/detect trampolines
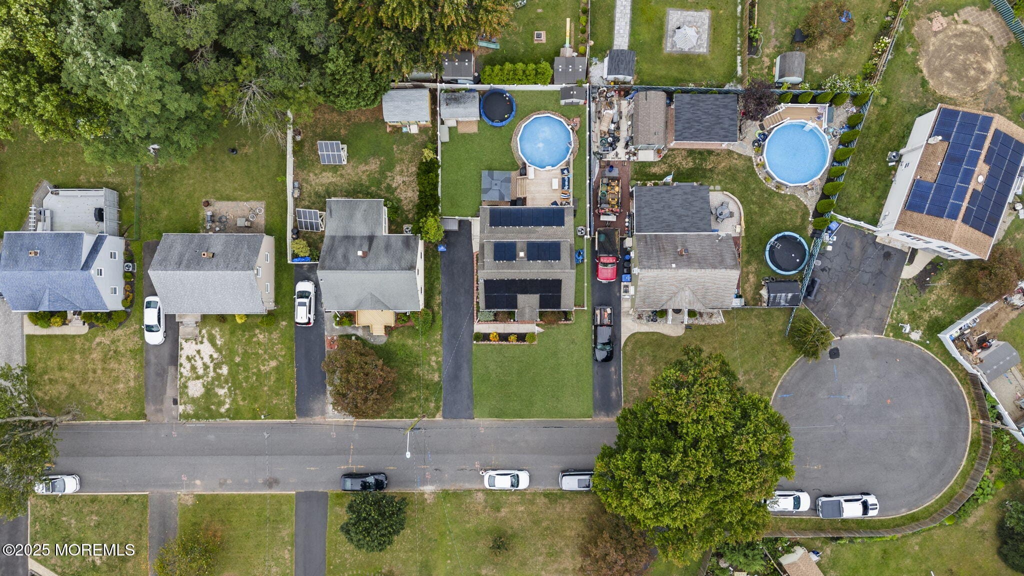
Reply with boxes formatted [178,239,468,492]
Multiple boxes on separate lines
[763,229,814,275]
[480,89,516,128]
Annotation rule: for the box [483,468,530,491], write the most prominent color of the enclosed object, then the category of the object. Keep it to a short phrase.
white car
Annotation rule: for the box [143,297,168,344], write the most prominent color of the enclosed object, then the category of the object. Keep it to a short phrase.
white car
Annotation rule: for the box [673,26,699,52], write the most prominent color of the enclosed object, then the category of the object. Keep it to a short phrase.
white umbrella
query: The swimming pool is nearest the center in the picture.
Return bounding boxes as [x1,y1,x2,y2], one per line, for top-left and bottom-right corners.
[518,114,572,170]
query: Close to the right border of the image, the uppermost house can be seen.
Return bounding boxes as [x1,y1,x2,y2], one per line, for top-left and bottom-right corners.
[865,103,1024,271]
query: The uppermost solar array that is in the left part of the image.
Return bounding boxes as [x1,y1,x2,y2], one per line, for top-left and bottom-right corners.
[318,141,354,165]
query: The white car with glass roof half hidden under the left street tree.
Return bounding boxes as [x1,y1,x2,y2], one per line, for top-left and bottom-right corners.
[34,474,82,496]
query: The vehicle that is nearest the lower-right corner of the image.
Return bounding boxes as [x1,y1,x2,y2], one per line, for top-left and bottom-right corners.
[815,493,878,519]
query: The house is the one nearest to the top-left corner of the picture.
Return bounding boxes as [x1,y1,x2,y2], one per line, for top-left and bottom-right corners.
[0,232,123,313]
